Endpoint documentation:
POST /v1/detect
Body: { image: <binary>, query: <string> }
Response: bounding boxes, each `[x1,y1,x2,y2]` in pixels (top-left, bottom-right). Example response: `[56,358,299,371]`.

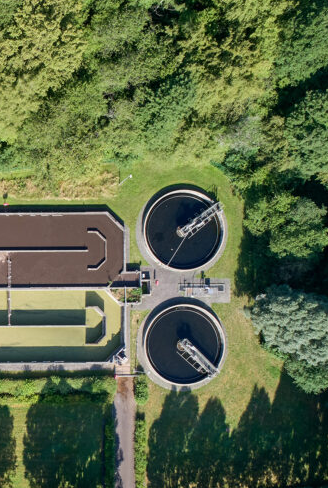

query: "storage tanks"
[138,300,228,390]
[137,186,228,277]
